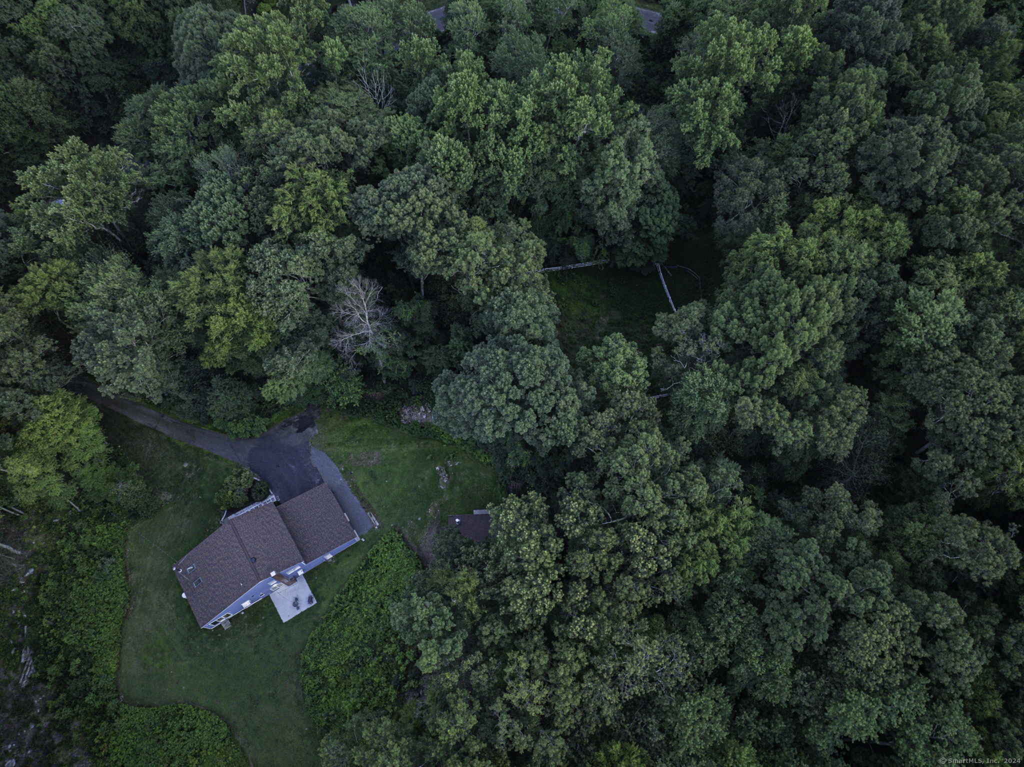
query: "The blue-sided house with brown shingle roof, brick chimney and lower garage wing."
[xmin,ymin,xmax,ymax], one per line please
[174,480,361,629]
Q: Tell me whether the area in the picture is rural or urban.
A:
rural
